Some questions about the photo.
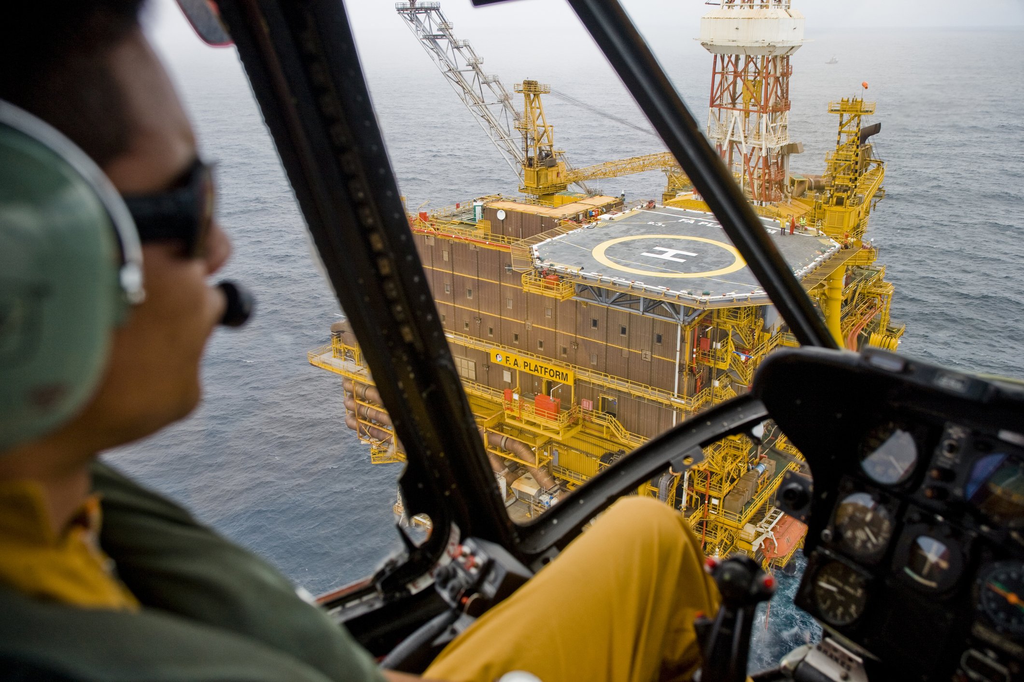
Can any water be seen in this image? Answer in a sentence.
Yes, there's water in this view.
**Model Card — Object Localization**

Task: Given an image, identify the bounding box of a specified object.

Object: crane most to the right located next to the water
[812,97,887,334]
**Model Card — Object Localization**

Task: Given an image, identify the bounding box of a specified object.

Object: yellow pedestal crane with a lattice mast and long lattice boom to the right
[505,73,678,203]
